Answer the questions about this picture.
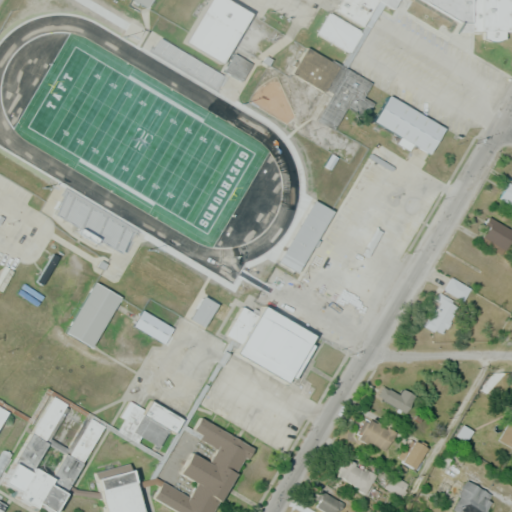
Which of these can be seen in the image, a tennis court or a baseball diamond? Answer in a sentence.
The one in the frame is a baseball diamond.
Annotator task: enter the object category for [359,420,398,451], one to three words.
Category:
house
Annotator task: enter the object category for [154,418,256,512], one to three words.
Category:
building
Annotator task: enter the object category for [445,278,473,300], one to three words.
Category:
house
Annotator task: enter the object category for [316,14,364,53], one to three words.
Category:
building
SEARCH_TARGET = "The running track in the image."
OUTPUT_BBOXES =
[0,14,307,269]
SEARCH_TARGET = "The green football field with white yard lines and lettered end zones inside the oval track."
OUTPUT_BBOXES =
[14,34,270,247]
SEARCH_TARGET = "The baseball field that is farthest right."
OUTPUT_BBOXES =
[251,78,298,124]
